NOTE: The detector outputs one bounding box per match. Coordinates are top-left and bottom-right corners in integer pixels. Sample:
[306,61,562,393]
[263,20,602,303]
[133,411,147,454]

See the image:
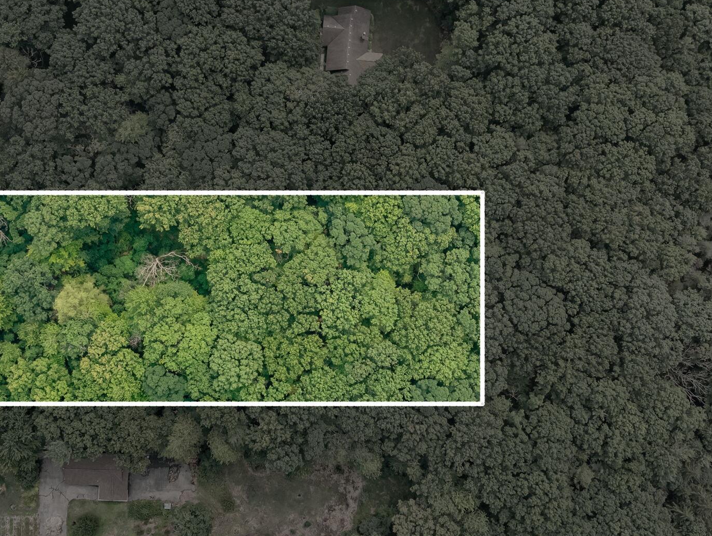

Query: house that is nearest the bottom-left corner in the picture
[62,455,129,503]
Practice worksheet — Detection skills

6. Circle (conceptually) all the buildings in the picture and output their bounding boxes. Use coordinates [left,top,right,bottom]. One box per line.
[321,5,383,94]
[62,455,129,503]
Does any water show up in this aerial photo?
No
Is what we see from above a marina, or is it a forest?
forest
